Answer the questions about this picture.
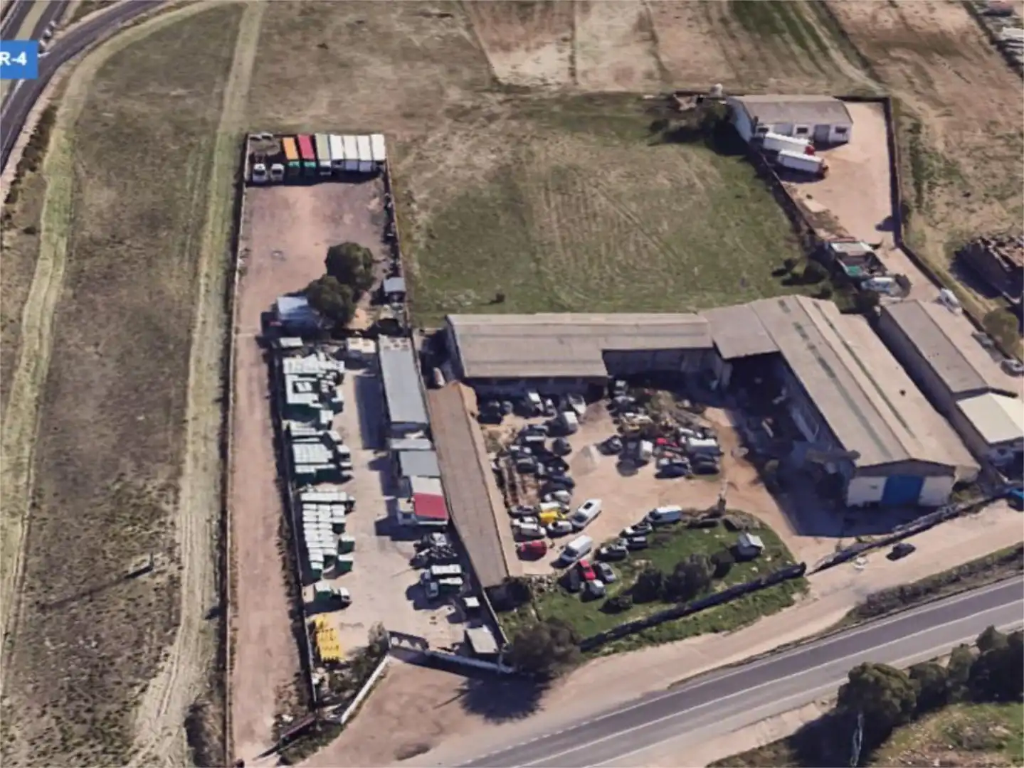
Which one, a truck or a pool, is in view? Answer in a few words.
truck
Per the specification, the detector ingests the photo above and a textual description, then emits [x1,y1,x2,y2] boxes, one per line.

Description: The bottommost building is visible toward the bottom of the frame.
[467,628,497,666]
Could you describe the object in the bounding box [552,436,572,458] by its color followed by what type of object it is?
black car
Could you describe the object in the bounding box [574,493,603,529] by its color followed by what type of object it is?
white camper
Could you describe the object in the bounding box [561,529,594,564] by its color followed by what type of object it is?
white van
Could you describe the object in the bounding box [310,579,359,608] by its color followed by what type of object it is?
white truck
